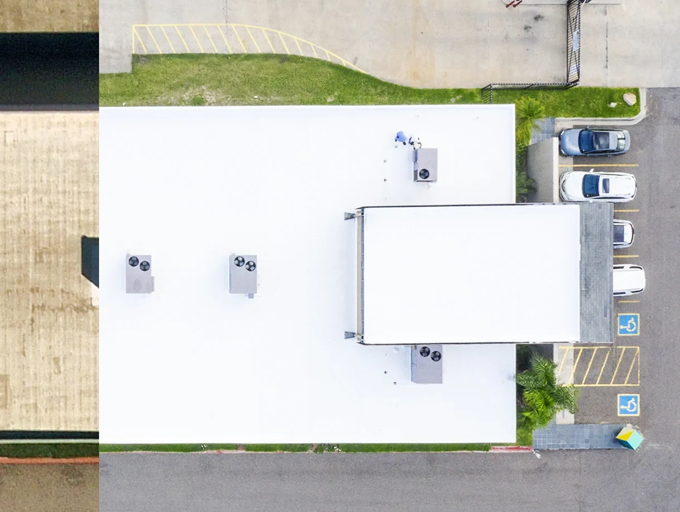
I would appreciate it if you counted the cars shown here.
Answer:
4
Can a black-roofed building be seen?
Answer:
No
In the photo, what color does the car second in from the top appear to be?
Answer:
white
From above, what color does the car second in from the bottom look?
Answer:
white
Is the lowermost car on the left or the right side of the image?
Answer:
right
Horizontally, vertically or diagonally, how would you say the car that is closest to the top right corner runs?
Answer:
horizontally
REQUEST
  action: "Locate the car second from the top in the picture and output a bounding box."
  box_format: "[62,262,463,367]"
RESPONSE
[560,168,637,203]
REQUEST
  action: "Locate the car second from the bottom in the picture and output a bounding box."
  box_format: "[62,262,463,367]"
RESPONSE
[612,219,635,248]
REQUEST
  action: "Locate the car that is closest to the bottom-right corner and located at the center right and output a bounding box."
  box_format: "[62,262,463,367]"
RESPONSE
[612,264,647,295]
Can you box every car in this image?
[560,124,631,158]
[612,264,647,295]
[560,168,637,203]
[612,219,635,248]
